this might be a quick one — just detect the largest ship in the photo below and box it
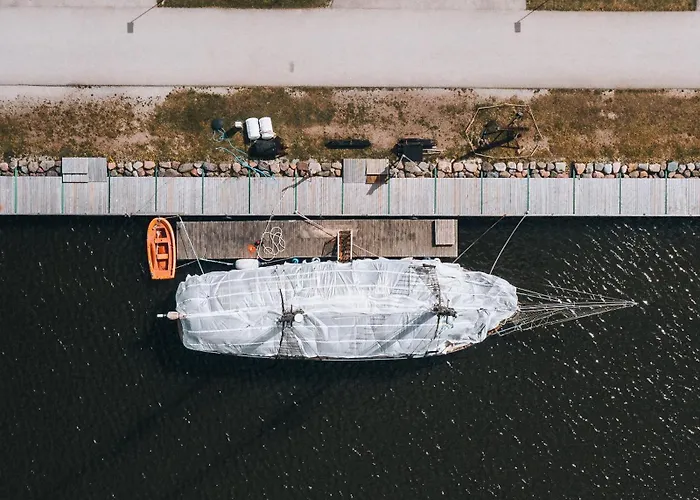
[157,256,636,360]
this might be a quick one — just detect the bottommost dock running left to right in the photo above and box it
[176,220,457,259]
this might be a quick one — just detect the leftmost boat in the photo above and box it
[146,218,176,279]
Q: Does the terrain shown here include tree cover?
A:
No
